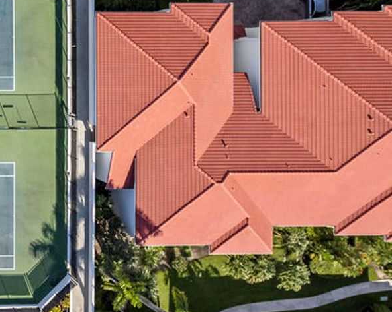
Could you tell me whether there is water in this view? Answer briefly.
No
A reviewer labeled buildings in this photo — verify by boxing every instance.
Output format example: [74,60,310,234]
[94,1,392,255]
